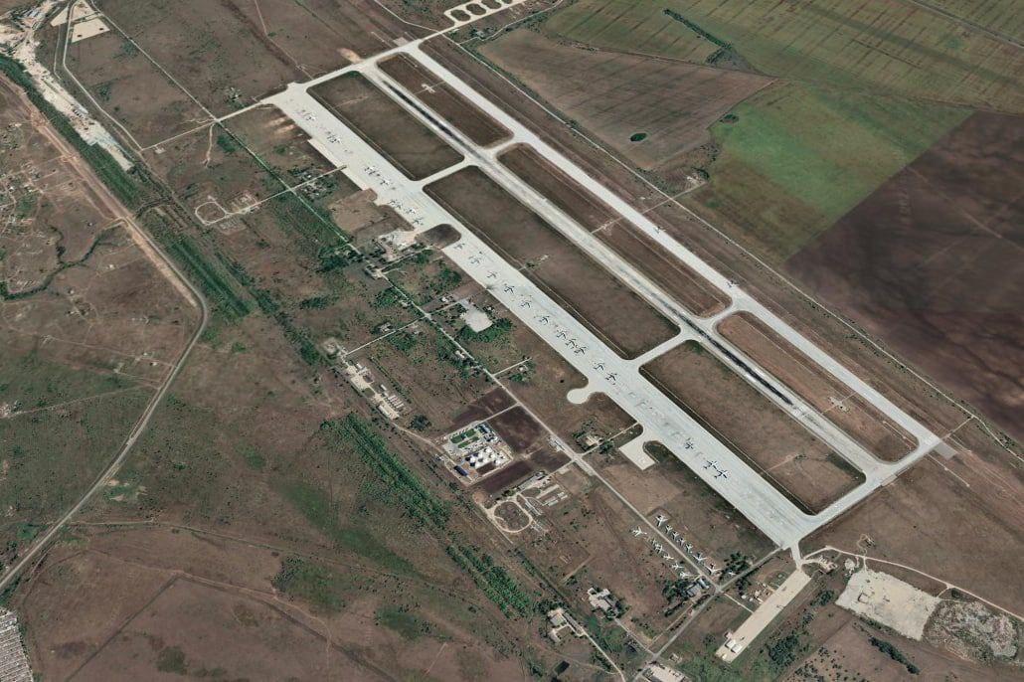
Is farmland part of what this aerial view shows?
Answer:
Yes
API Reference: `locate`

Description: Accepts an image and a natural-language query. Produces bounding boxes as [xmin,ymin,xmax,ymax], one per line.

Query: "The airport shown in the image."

[260,0,956,663]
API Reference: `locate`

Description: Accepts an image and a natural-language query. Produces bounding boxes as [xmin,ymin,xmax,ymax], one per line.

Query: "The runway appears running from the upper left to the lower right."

[349,57,904,489]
